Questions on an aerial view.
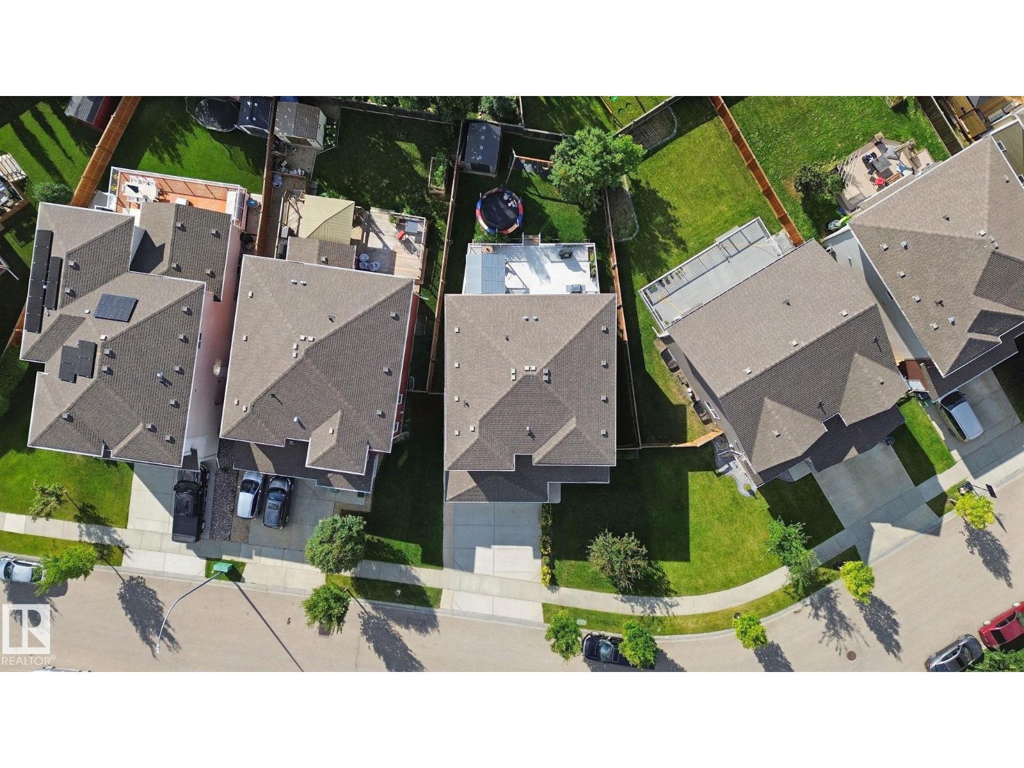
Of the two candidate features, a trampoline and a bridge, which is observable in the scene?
trampoline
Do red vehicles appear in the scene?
Yes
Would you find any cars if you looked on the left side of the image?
Yes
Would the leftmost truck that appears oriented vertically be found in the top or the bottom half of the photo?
bottom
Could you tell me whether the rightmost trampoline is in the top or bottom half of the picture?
top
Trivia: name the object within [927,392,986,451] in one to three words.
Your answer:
car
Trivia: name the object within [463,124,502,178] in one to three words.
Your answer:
shed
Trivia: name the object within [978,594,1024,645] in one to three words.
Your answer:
car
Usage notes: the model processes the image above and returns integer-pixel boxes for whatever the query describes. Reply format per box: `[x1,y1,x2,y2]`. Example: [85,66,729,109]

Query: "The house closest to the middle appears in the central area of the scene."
[443,293,618,503]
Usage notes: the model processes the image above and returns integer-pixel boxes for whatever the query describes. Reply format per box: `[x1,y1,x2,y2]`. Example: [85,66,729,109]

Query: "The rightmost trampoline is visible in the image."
[476,187,524,236]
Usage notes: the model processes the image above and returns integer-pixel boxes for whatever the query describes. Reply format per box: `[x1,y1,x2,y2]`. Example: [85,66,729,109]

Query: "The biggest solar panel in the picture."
[91,292,137,320]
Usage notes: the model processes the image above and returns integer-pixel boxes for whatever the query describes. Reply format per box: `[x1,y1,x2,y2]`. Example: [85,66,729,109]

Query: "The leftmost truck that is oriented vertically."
[171,463,214,547]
